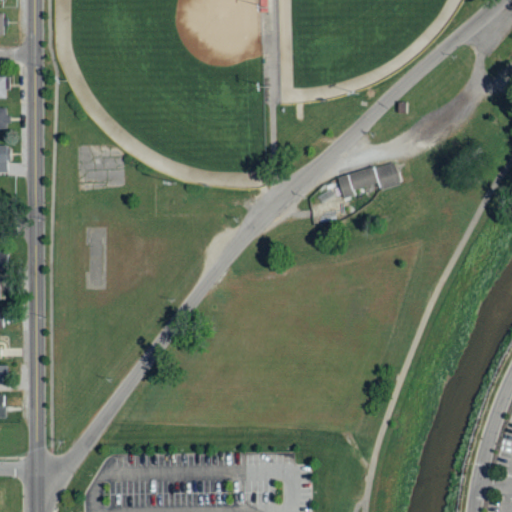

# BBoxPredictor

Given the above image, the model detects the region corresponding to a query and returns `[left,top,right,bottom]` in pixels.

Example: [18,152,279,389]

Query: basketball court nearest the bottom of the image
[86,227,107,290]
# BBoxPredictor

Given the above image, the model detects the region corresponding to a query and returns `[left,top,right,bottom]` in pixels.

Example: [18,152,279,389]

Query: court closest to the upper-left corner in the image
[78,144,125,191]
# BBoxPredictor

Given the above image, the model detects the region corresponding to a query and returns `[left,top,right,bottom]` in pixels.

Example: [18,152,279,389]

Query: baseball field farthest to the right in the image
[278,0,464,104]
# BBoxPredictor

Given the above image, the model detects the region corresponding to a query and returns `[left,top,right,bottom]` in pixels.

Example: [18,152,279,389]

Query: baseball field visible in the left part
[54,0,264,189]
